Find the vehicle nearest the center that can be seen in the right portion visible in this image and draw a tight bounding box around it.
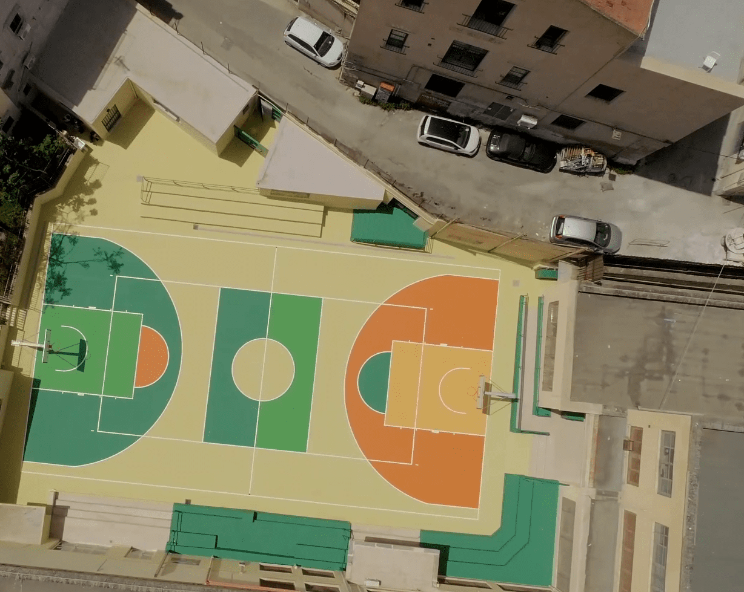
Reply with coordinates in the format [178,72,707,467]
[417,118,480,158]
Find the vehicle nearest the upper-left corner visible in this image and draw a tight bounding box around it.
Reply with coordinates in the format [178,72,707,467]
[283,18,344,69]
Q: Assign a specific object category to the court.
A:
basketball court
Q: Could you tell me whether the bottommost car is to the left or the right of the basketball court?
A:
right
